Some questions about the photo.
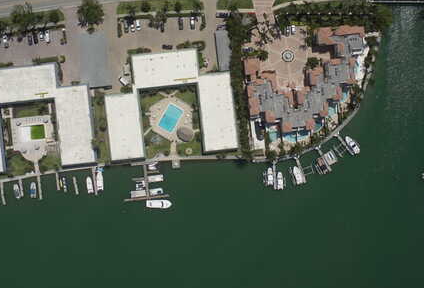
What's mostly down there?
water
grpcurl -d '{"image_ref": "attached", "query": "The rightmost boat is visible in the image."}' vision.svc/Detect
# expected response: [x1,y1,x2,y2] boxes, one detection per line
[346,136,360,156]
